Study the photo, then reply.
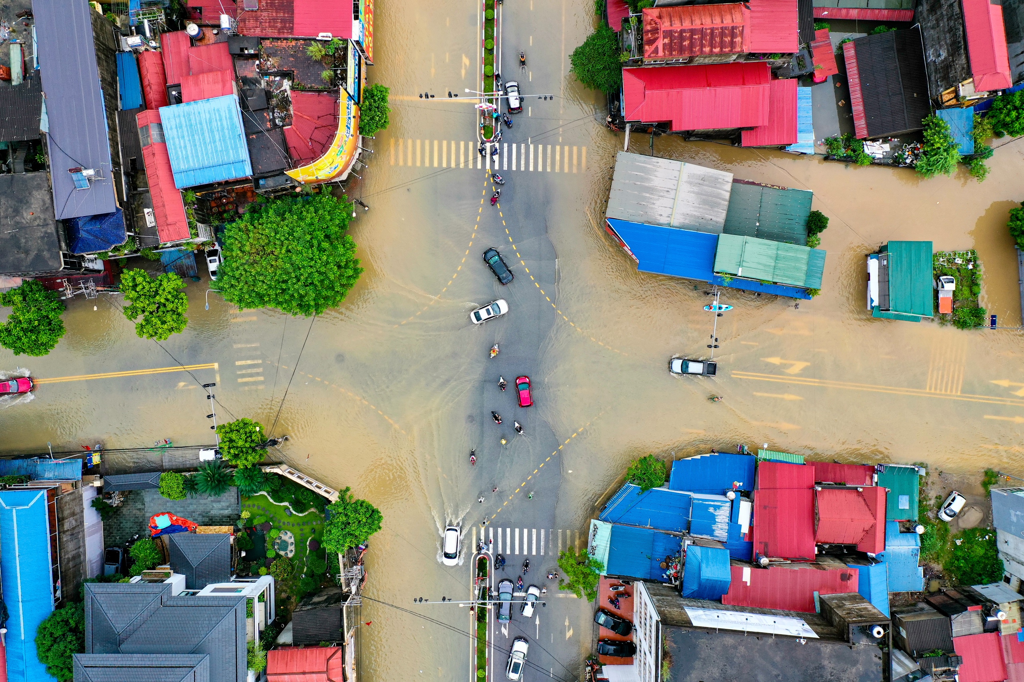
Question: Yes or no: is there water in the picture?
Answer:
Yes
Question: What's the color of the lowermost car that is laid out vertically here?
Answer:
white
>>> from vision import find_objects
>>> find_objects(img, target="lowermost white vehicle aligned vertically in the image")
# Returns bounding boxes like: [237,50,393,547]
[506,636,530,682]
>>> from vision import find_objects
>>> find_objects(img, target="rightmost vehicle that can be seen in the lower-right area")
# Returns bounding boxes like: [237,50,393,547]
[937,490,967,522]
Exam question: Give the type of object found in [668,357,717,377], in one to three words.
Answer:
vehicle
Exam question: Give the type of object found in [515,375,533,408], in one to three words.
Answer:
car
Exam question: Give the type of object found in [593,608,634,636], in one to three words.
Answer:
car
